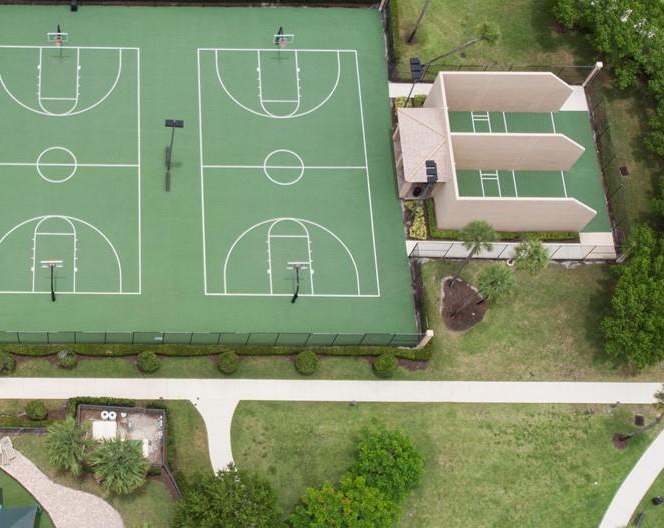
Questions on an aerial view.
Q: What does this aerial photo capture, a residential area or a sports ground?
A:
sports ground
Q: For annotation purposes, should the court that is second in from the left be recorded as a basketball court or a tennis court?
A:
basketball court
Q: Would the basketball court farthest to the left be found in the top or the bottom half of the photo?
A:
top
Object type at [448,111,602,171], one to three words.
sports court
